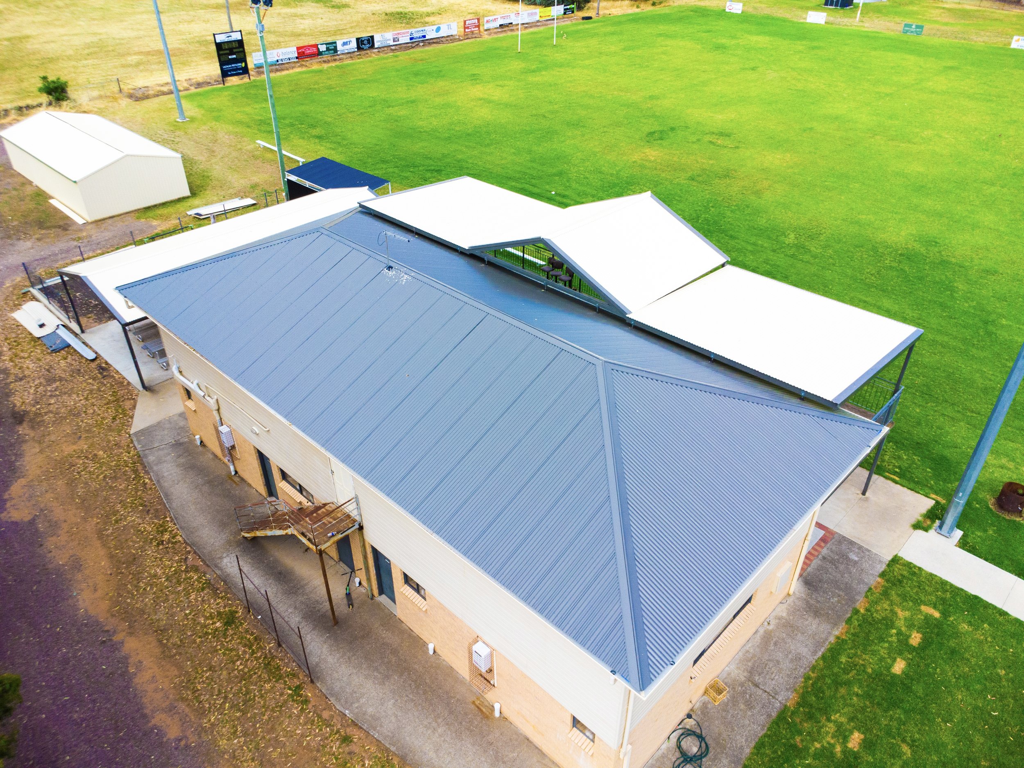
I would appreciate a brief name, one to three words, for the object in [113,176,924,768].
building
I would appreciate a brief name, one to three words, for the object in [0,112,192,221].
shed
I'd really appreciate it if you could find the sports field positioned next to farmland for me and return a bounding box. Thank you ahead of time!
[179,7,1024,606]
